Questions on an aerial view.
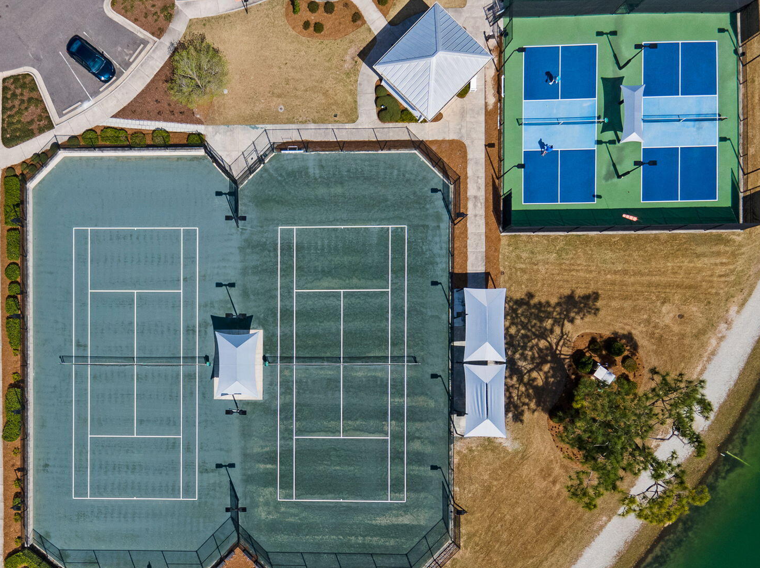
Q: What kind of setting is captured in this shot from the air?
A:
sports ground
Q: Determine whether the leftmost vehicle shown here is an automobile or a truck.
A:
automobile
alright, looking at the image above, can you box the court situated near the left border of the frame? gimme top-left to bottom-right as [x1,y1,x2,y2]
[25,150,239,568]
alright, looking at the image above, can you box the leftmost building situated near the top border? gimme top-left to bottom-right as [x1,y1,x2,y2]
[371,1,494,127]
